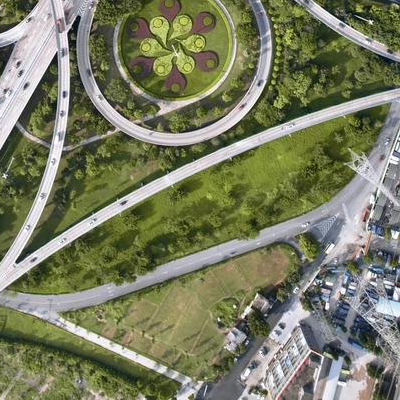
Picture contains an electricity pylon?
Yes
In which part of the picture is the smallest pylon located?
bottom right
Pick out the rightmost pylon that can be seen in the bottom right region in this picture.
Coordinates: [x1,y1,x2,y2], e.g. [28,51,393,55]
[341,265,400,372]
